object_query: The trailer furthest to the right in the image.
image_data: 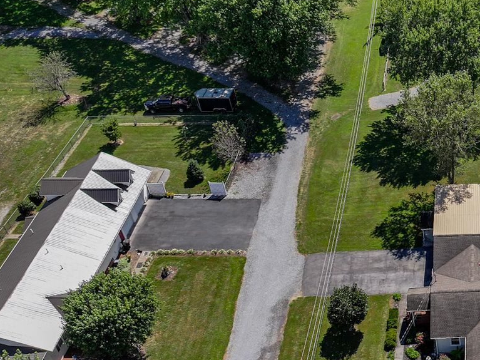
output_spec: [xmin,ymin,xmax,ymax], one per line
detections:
[192,89,238,113]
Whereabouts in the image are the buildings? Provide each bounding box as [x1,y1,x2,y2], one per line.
[0,151,153,360]
[407,183,480,360]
